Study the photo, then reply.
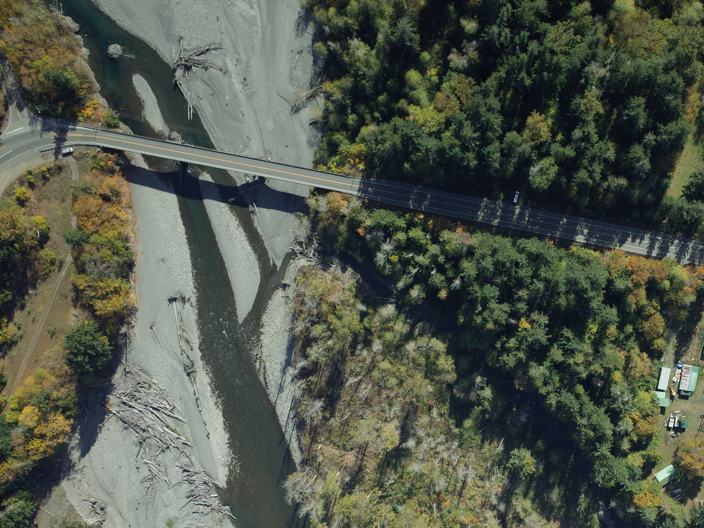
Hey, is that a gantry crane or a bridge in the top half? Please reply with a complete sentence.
The feature located in the top half is a bridge.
